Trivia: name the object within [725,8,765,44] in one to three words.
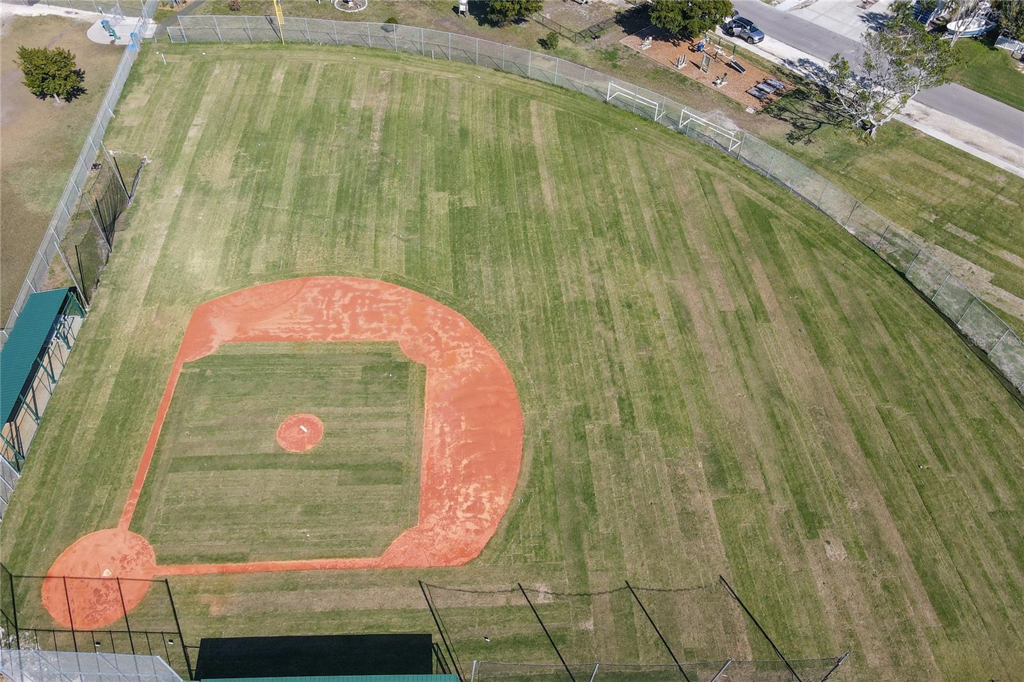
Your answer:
car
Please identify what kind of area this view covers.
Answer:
sports ground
